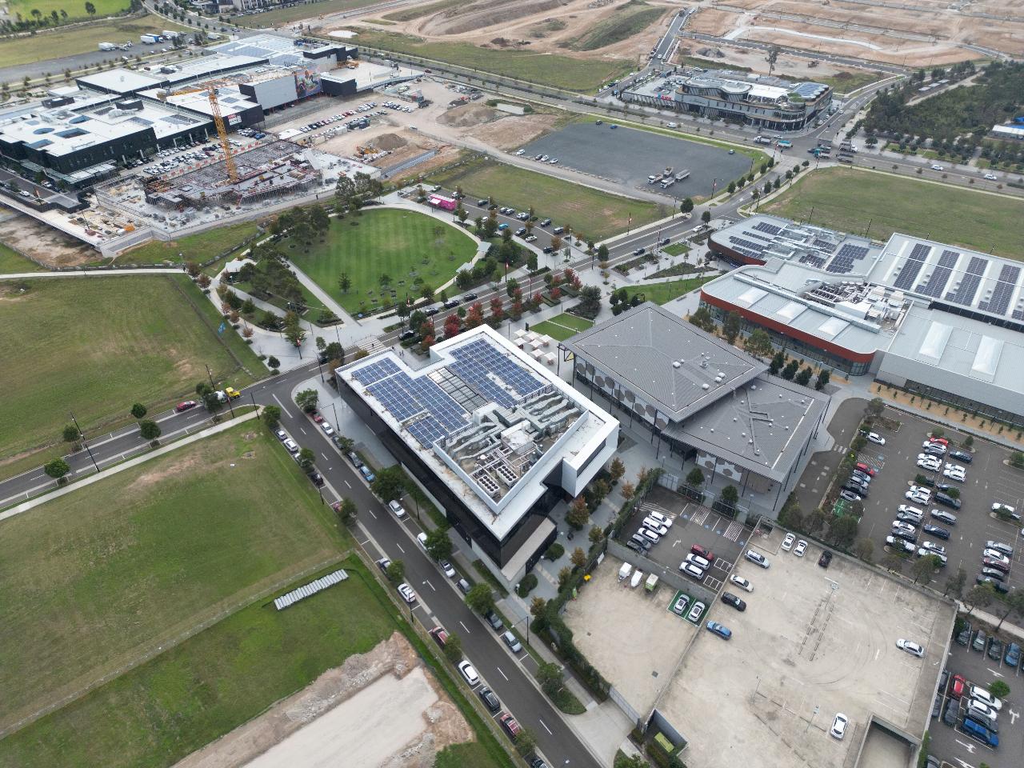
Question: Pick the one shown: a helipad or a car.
car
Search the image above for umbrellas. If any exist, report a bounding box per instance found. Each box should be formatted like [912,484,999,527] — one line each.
[538,335,554,346]
[513,329,529,338]
[525,332,541,341]
[542,352,559,364]
[512,338,529,349]
[530,348,546,361]
[527,340,544,349]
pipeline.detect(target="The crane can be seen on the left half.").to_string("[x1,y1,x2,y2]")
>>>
[151,64,301,173]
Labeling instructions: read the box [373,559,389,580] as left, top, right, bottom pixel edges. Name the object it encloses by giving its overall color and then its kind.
gray car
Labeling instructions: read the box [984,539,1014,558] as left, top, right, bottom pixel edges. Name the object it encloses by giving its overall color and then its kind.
gray vehicle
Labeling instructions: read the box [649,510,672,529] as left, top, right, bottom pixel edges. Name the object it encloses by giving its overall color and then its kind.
white car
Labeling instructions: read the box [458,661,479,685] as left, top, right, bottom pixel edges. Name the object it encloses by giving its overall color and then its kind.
white car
